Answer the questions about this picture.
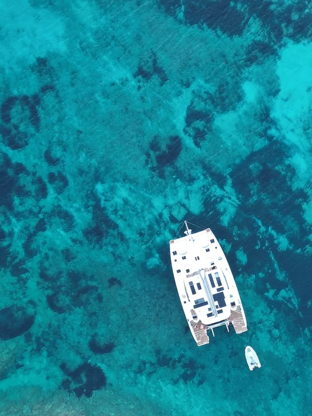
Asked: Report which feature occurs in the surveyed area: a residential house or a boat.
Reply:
boat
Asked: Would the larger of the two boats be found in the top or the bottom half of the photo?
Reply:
bottom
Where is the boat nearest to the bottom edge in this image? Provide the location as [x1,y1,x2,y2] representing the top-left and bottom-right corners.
[245,346,260,370]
